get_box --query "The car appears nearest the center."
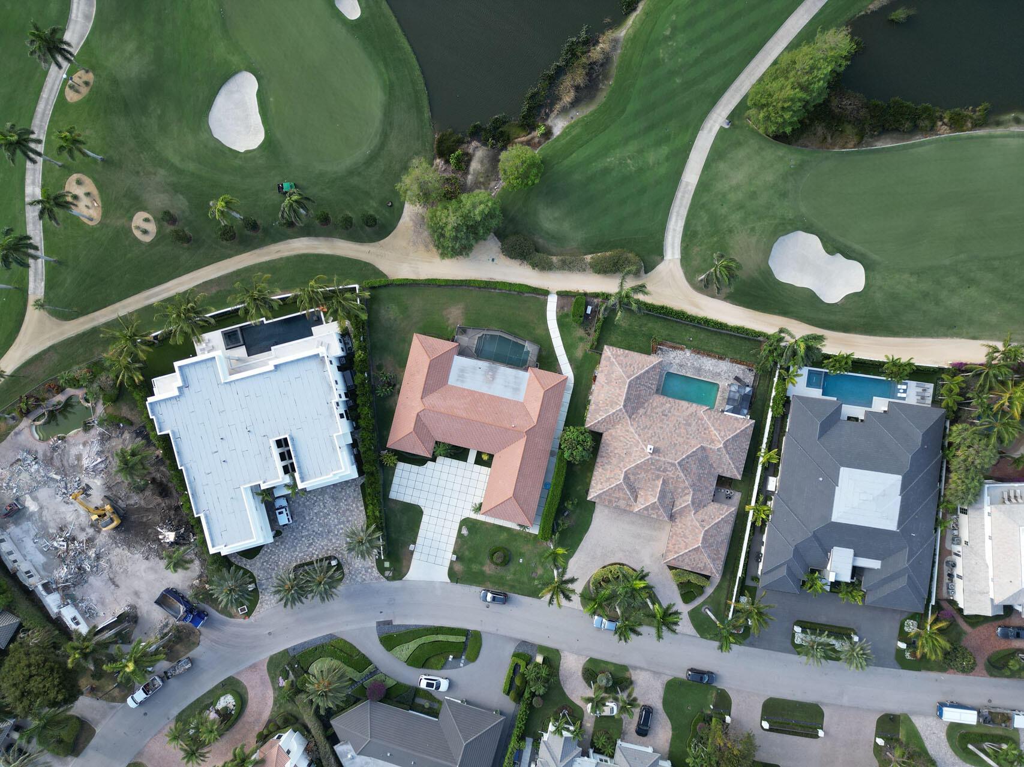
[479,588,508,605]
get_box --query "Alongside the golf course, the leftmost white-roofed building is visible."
[147,332,364,555]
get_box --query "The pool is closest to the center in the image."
[473,332,532,369]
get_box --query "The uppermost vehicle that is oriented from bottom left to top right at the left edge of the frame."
[0,495,25,518]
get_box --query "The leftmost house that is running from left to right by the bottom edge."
[330,694,505,767]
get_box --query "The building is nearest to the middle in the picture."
[386,333,568,527]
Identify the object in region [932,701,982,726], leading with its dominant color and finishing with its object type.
white vehicle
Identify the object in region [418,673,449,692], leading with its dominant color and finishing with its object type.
white car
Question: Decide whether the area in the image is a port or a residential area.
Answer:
residential area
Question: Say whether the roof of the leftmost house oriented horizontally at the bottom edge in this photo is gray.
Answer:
Yes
